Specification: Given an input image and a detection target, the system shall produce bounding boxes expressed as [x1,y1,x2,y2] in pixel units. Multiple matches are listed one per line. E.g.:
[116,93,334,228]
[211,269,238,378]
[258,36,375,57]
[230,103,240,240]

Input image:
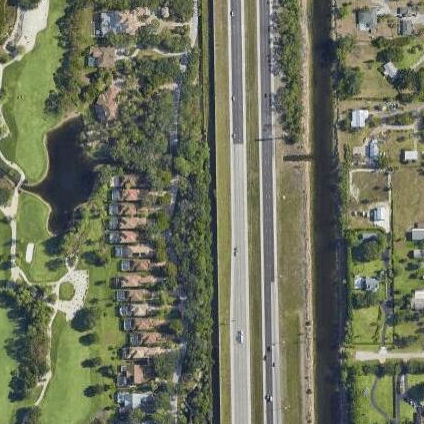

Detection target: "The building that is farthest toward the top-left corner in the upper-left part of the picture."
[90,47,114,67]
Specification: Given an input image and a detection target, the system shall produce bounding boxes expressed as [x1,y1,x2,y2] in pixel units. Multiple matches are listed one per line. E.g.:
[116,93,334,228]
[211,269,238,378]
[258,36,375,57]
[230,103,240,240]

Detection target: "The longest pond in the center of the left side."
[26,115,95,235]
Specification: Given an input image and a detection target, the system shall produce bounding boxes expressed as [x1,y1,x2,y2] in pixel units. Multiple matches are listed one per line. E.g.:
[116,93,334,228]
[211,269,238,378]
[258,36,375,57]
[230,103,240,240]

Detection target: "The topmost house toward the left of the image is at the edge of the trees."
[123,10,148,33]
